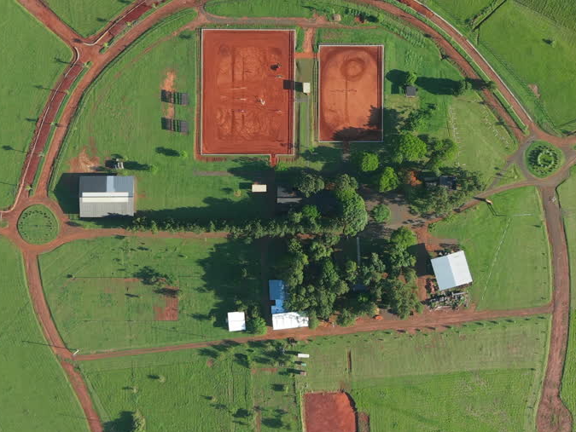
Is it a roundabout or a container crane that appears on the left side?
roundabout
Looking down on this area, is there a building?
Yes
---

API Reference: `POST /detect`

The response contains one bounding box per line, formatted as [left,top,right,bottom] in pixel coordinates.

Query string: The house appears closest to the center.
[277,185,304,204]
